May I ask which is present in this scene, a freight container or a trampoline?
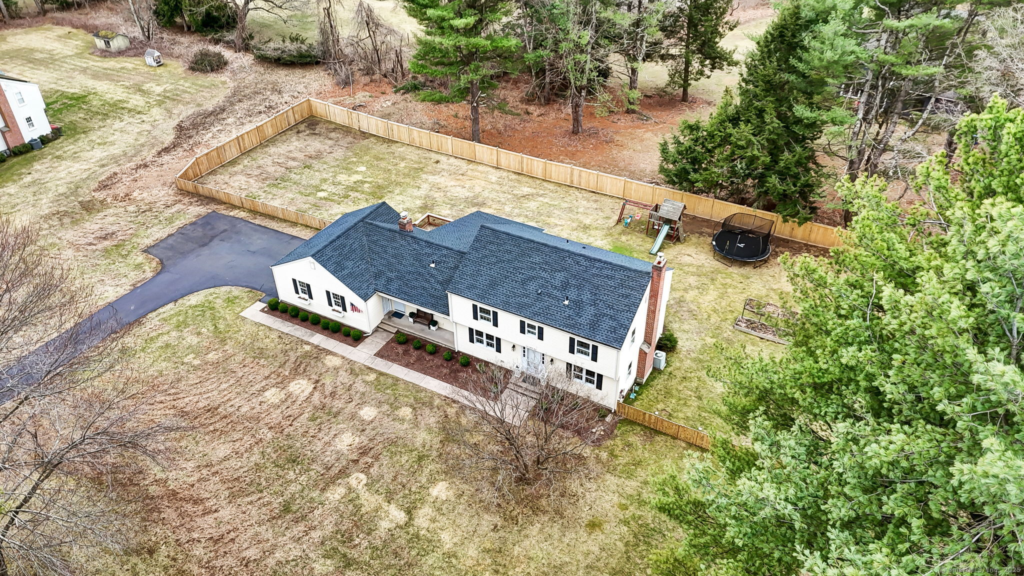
trampoline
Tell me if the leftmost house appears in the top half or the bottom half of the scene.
top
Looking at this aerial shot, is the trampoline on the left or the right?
right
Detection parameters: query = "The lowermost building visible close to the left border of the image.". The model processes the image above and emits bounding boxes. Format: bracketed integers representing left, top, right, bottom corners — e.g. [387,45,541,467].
[0,72,52,156]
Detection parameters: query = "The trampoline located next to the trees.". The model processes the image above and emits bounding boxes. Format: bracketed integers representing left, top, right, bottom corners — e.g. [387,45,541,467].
[708,212,780,272]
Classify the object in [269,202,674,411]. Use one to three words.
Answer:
house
